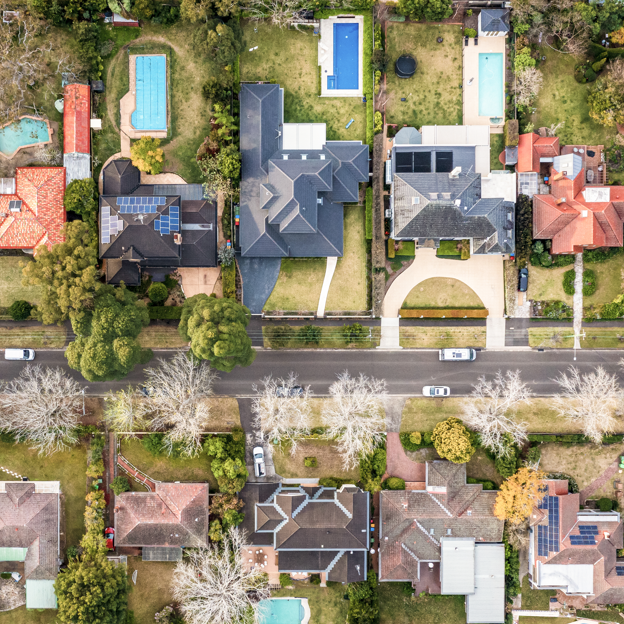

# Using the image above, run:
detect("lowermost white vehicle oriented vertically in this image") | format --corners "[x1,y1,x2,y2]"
[253,445,266,478]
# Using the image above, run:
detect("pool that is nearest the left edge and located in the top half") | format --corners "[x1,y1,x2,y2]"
[0,114,53,160]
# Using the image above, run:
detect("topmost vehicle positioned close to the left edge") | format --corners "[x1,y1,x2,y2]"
[3,348,35,360]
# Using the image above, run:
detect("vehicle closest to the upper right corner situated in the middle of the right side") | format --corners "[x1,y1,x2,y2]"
[516,268,530,292]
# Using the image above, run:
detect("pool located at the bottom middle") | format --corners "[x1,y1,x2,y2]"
[257,598,307,624]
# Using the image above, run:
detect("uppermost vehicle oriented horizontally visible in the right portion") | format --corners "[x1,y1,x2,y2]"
[438,348,477,361]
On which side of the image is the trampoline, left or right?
right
